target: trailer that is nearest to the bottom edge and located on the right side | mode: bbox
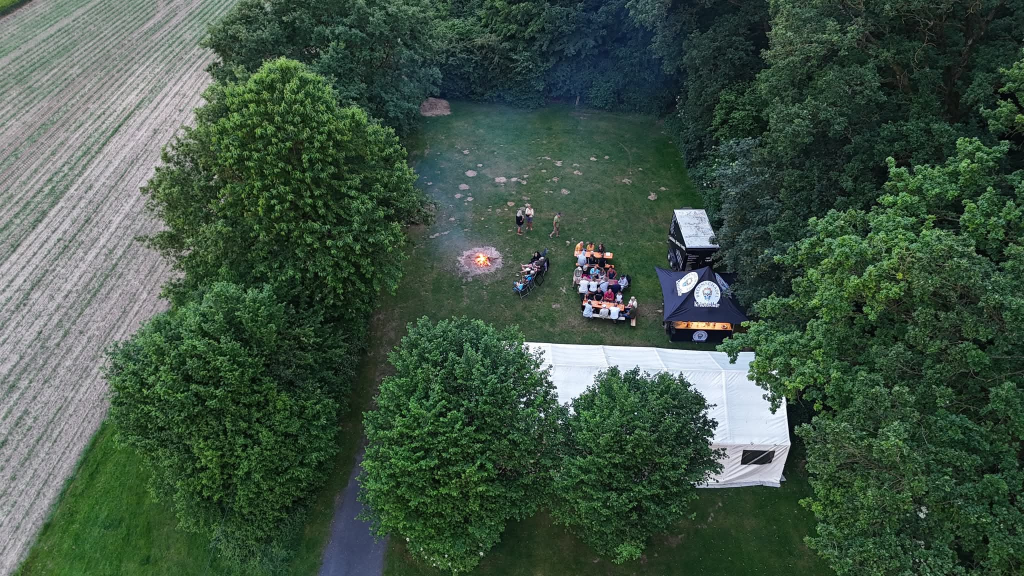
[669,211,720,273]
